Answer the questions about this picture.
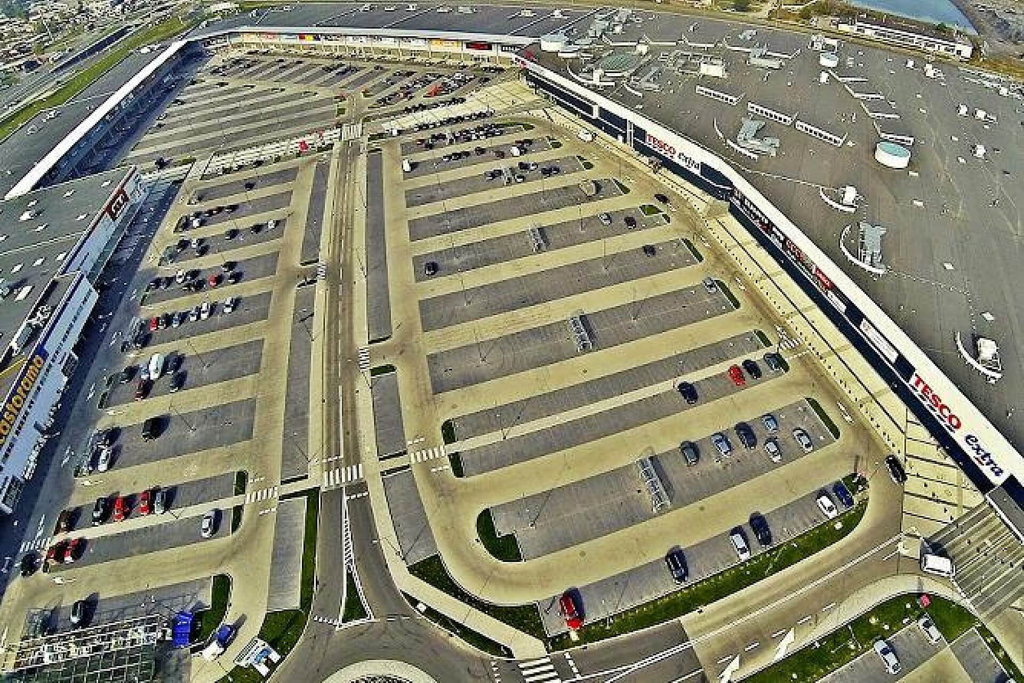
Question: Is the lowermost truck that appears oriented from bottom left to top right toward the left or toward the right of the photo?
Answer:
left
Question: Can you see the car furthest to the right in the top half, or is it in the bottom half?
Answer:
bottom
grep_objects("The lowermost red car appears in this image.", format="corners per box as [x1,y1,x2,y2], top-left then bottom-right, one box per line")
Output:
[559,590,583,628]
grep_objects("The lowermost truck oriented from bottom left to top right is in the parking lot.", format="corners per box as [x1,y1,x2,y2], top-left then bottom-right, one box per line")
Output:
[201,621,238,663]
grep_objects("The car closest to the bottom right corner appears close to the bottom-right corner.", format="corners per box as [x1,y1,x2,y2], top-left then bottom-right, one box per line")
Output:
[983,656,1023,683]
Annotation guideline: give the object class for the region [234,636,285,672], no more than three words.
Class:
trailer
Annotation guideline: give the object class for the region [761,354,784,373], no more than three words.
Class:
car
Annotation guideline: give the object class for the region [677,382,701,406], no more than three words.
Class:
car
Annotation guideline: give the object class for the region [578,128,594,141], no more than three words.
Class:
vehicle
